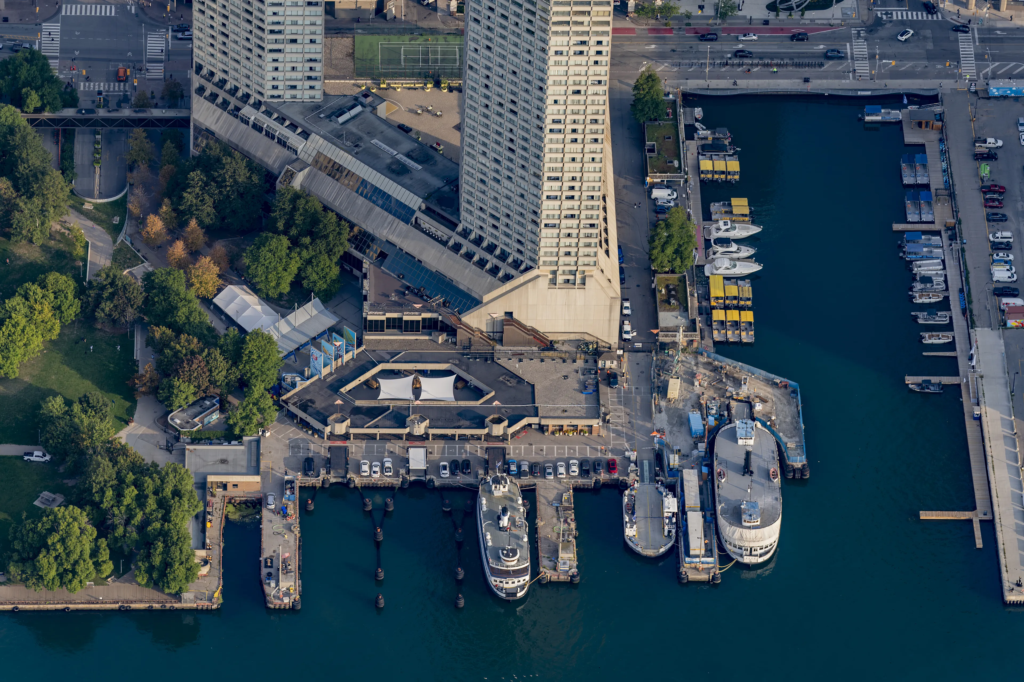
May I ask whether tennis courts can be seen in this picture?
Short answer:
Yes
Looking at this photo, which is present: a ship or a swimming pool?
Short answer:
ship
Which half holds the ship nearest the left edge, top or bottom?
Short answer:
bottom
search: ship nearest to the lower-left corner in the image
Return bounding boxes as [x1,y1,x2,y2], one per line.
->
[476,460,535,599]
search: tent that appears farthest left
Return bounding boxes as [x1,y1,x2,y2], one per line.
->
[212,284,282,327]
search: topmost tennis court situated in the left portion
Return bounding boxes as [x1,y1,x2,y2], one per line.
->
[355,22,462,78]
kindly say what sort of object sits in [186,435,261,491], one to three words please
building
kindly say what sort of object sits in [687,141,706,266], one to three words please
pier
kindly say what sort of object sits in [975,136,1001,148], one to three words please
vehicle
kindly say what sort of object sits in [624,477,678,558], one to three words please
ship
